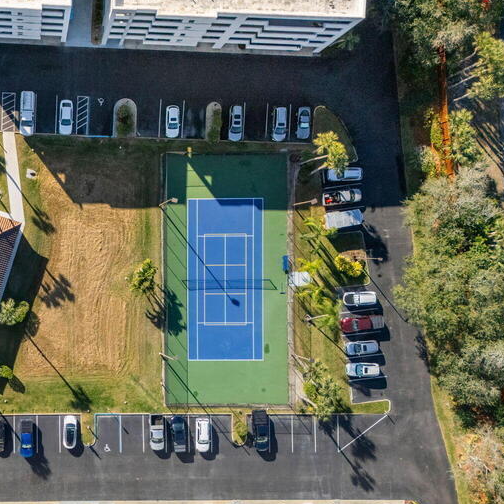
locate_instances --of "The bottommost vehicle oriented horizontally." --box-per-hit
[345,362,380,378]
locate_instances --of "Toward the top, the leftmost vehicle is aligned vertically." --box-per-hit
[19,90,36,136]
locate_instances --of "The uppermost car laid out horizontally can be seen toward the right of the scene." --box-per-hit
[326,167,362,183]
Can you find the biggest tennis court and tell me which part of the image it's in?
center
